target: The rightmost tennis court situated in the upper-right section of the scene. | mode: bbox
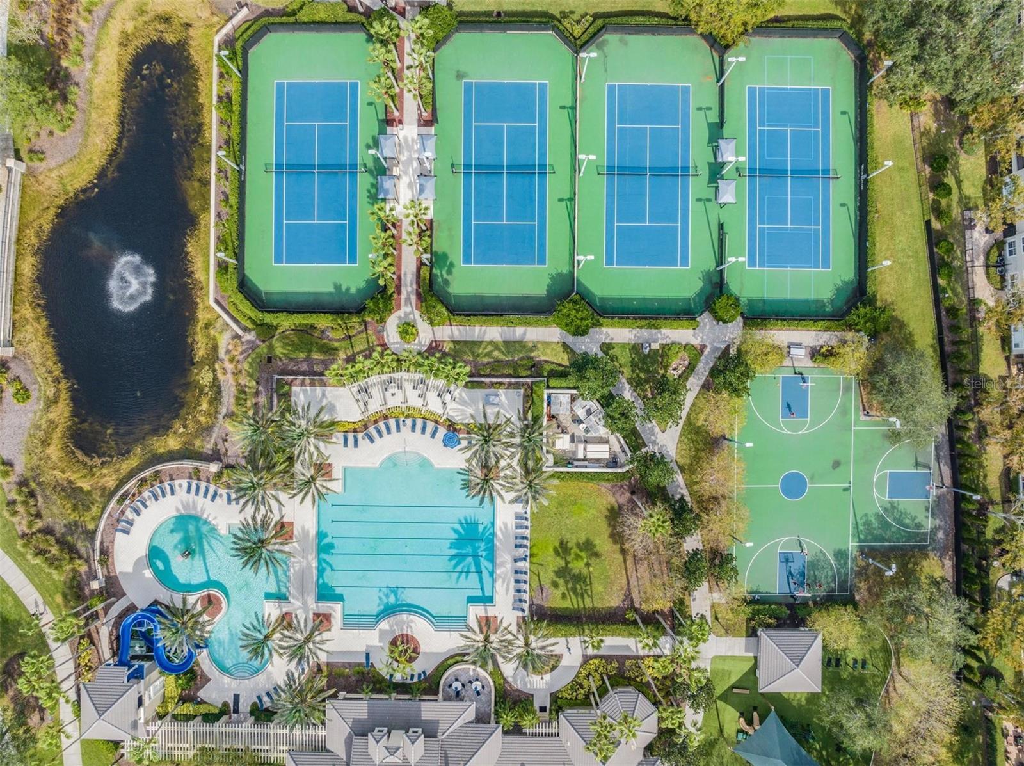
[722,38,860,315]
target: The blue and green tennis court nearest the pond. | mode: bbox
[244,33,386,308]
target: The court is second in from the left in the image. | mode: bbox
[433,33,576,311]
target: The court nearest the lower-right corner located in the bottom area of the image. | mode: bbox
[732,368,938,603]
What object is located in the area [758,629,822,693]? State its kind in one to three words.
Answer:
building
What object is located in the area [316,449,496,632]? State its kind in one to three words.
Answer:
swimming pool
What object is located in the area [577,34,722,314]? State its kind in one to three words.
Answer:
tennis court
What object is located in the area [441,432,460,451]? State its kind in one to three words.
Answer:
umbrella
